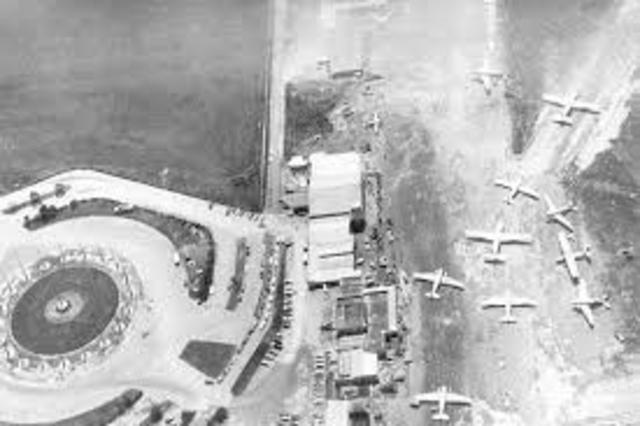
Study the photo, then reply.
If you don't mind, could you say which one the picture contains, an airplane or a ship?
airplane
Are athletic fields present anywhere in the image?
No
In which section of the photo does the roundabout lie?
bottom left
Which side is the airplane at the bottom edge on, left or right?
right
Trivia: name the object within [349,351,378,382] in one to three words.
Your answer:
building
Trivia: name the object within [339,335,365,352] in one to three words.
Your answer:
shed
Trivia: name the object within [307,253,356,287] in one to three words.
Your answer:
hangar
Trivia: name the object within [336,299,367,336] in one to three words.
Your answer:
building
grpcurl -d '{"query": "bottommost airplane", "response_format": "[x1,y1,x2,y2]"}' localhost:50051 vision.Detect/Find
[412,385,472,422]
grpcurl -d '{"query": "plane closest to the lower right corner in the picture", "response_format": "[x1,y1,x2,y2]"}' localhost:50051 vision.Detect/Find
[576,280,609,327]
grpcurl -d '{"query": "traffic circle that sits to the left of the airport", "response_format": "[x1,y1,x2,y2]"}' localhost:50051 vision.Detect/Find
[0,244,144,379]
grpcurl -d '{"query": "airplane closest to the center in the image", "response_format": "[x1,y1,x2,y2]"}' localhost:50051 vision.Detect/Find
[364,110,381,129]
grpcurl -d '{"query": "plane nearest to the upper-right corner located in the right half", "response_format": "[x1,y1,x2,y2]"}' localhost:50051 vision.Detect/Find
[543,91,601,122]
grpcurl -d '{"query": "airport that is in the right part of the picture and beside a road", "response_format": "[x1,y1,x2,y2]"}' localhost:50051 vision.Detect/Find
[282,0,640,426]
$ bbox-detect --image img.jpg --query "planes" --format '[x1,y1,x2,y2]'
[315,61,332,71]
[543,91,601,122]
[576,280,609,327]
[545,192,578,231]
[413,268,465,299]
[364,110,381,129]
[558,235,592,282]
[412,385,472,422]
[494,179,539,206]
[482,290,536,323]
[465,220,532,260]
